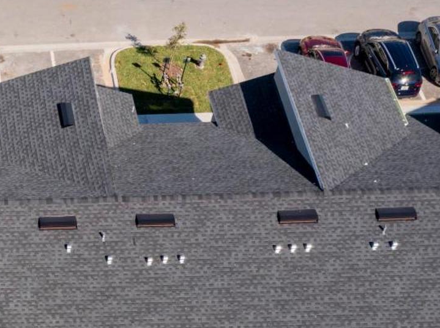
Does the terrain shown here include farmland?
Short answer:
No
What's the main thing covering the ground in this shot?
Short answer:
buildings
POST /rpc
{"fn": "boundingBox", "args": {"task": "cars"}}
[354,30,428,103]
[301,39,365,74]
[416,19,440,80]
